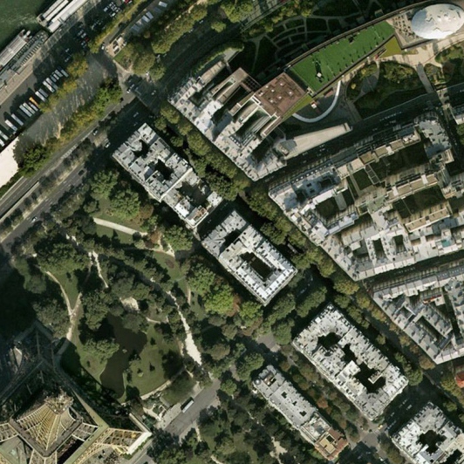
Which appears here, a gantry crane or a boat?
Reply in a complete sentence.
The image shows a boat.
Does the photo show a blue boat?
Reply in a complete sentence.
No, I can't see a single blue boat in this photo.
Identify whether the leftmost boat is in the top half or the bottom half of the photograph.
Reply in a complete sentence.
It is in the top half that the leftmost boat appears.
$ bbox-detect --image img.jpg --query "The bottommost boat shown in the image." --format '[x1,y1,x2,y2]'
[0,29,31,68]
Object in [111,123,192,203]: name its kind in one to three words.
building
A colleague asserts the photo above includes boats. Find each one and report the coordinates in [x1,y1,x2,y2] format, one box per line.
[39,0,70,26]
[0,29,31,68]
[49,0,89,33]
